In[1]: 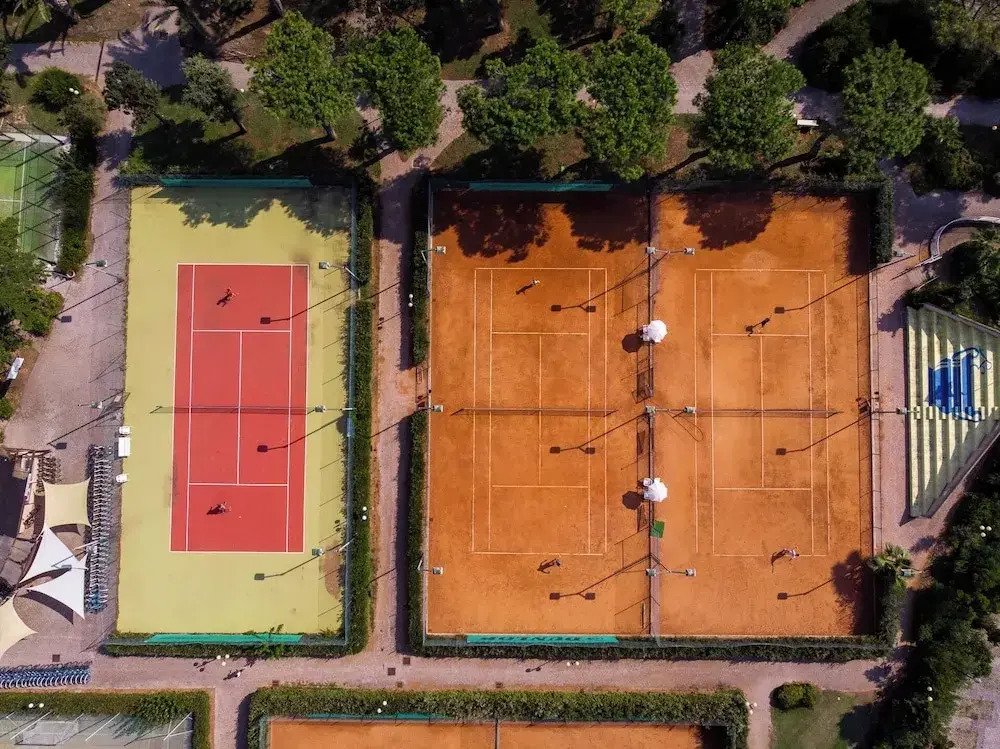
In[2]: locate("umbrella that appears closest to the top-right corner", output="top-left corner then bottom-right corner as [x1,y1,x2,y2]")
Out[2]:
[645,319,671,345]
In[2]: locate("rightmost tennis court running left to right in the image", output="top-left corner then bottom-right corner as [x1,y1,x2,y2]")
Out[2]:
[497,720,723,749]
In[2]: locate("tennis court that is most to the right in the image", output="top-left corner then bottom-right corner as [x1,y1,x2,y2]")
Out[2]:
[650,188,875,637]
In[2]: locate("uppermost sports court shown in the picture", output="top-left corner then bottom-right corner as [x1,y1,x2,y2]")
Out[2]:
[0,126,67,258]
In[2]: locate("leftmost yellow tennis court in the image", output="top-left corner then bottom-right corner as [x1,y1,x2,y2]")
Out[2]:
[118,185,354,635]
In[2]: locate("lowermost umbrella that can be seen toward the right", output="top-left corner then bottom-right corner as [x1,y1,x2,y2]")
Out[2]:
[645,477,671,503]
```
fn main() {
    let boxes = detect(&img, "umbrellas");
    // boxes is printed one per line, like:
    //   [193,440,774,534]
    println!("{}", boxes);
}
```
[645,319,671,345]
[645,477,671,503]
